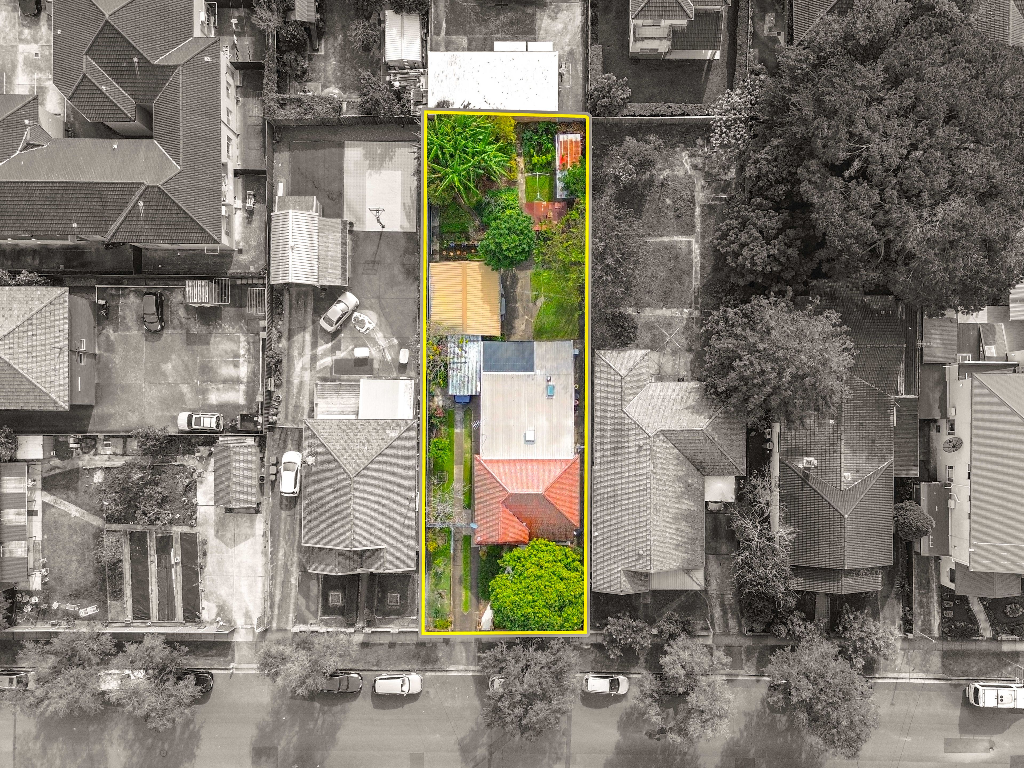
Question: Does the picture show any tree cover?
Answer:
Yes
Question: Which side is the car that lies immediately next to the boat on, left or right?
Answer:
left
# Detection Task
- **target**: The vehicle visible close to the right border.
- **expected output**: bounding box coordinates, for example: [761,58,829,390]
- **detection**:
[969,681,1024,711]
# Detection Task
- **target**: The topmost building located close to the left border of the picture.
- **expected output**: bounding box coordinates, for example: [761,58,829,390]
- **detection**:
[0,0,242,250]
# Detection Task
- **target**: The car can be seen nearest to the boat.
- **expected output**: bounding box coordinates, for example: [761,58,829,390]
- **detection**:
[316,288,361,338]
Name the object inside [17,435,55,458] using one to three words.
shed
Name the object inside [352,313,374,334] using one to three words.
boat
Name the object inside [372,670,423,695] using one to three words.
car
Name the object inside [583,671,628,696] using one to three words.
car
